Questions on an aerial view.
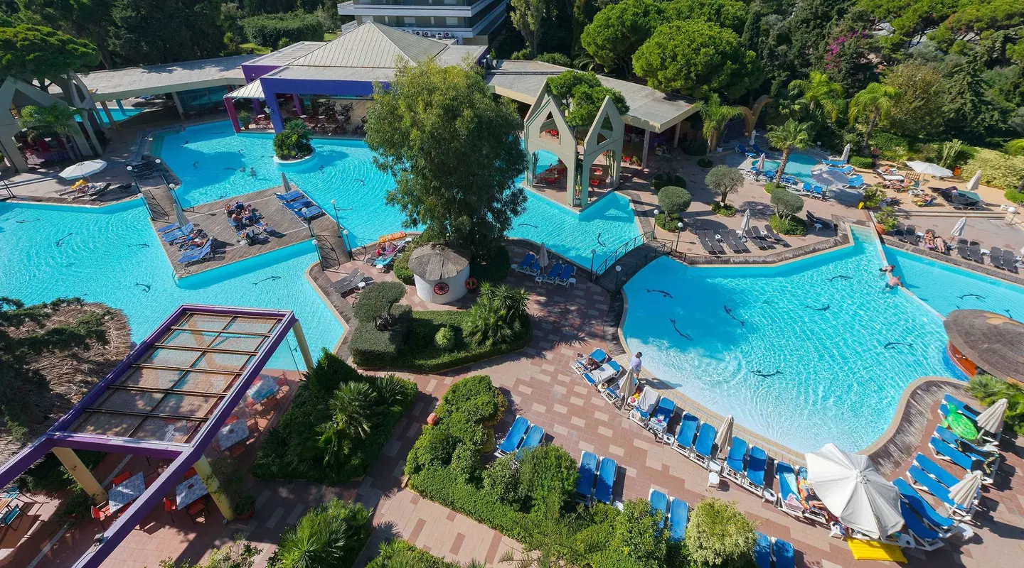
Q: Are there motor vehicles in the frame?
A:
No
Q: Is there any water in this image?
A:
Yes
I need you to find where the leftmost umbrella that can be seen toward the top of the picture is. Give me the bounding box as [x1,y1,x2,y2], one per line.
[56,160,112,197]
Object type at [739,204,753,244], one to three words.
umbrella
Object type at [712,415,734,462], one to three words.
umbrella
